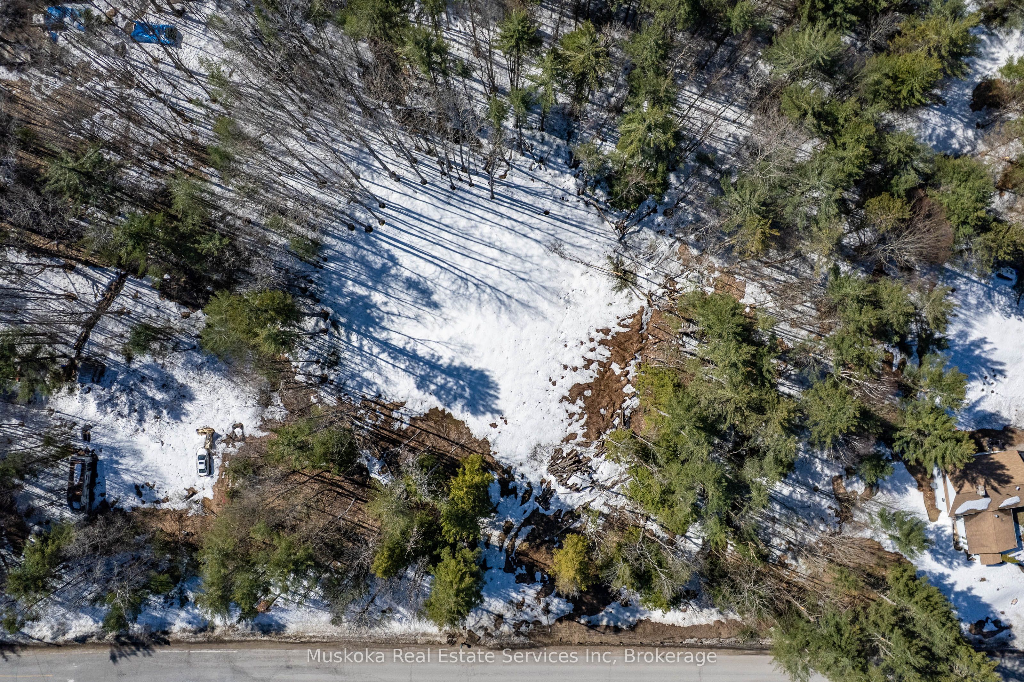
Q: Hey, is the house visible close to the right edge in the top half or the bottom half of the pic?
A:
bottom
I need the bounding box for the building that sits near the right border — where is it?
[936,454,1024,561]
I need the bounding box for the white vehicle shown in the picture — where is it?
[194,447,210,477]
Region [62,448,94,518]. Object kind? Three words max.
trailer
